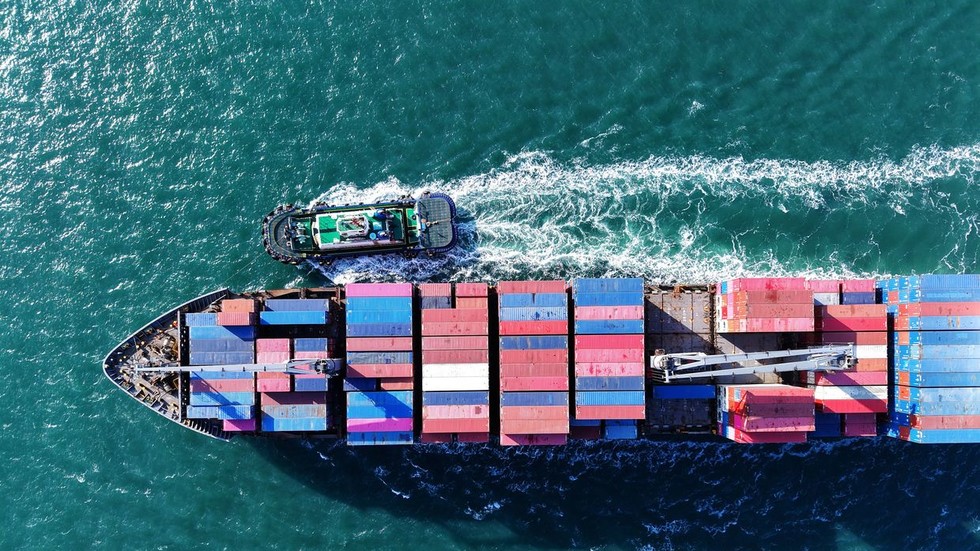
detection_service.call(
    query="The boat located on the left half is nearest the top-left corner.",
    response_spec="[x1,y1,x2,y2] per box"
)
[260,192,457,263]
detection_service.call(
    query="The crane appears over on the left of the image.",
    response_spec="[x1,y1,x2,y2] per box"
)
[131,349,346,377]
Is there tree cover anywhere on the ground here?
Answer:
No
